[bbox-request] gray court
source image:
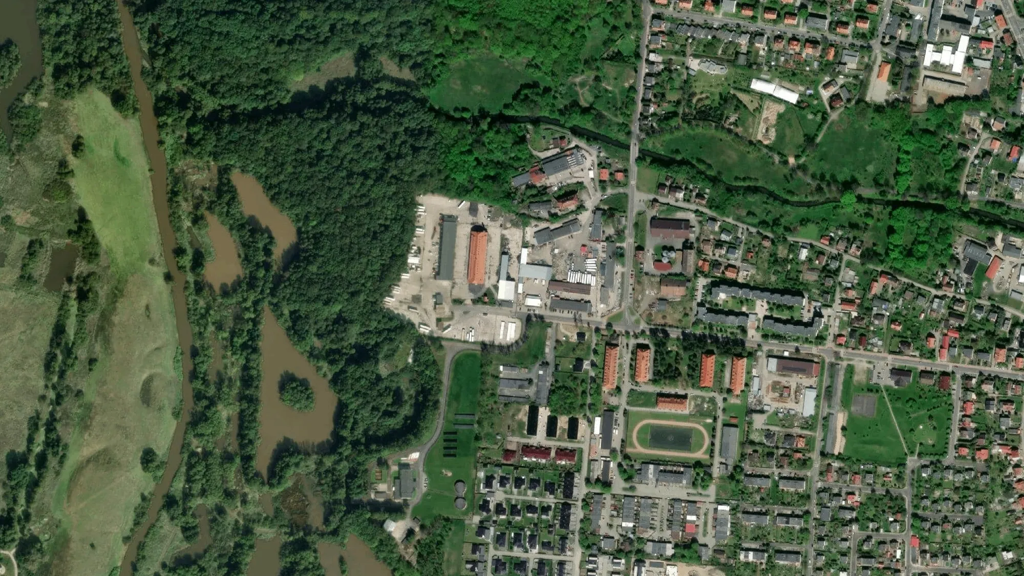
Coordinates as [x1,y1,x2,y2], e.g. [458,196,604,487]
[853,394,876,415]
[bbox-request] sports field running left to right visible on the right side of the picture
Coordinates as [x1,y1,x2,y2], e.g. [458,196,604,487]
[623,417,712,459]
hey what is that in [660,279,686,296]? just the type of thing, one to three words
barn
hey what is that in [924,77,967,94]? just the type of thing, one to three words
building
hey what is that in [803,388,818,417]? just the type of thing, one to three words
building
